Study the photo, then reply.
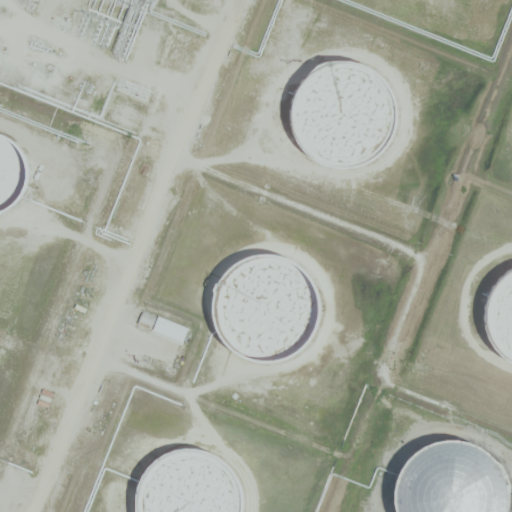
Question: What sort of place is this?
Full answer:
The picture captures an industrial area.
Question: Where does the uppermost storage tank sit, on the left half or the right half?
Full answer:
The uppermost storage tank sits on the right side.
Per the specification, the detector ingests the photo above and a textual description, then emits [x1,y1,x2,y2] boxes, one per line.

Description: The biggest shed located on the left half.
[154,316,188,343]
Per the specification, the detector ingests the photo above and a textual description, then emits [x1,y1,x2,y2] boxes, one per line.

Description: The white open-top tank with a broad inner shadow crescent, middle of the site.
[211,254,320,362]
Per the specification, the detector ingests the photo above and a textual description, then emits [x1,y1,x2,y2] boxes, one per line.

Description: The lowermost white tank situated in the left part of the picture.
[136,447,244,512]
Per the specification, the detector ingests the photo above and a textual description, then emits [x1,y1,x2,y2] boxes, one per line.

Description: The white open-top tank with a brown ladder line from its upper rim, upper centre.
[292,61,398,168]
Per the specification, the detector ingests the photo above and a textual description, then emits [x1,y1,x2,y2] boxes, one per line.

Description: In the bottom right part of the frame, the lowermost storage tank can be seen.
[394,439,510,512]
